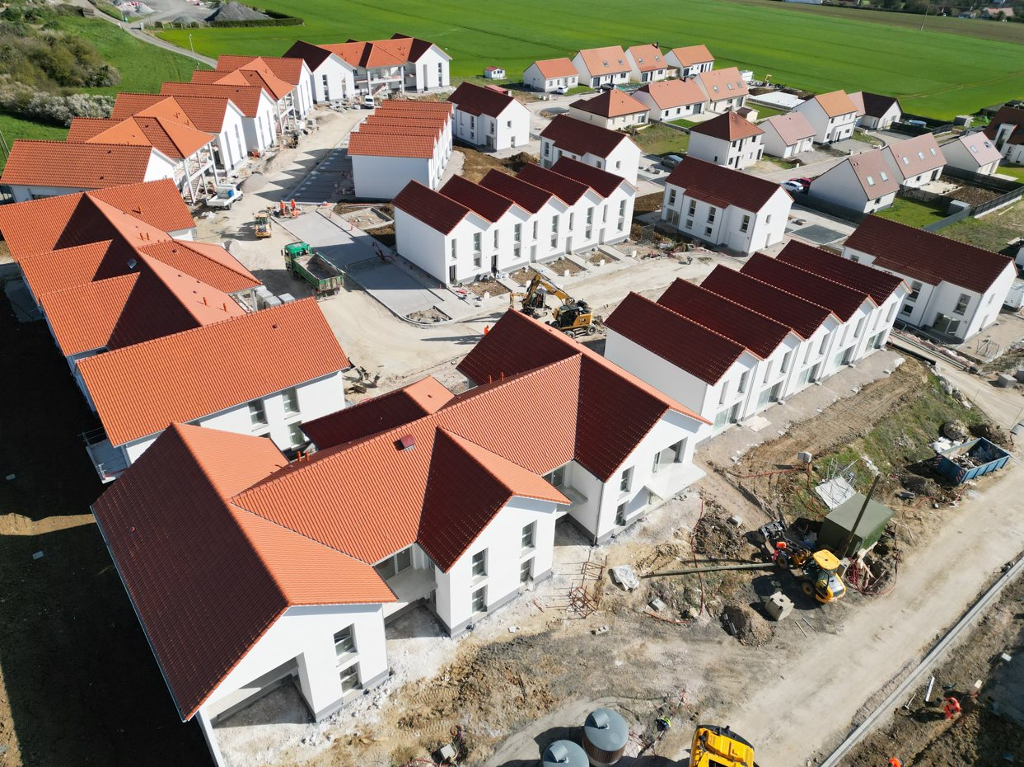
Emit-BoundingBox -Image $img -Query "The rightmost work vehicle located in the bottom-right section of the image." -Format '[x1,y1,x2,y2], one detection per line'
[760,535,849,605]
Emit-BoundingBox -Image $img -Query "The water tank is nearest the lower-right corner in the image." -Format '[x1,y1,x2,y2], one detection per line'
[585,705,632,767]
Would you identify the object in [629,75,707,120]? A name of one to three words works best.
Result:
house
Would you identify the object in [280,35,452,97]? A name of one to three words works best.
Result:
building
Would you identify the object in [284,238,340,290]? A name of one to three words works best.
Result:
truck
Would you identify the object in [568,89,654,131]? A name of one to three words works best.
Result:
house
